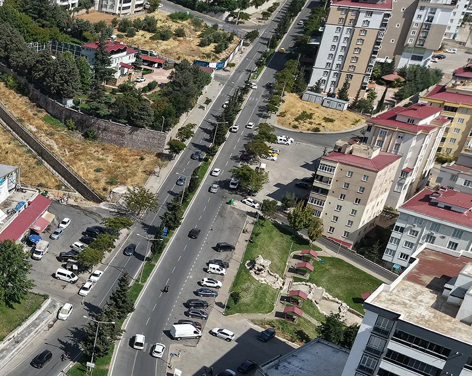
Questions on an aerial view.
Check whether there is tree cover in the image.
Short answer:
Yes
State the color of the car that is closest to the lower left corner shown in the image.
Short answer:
black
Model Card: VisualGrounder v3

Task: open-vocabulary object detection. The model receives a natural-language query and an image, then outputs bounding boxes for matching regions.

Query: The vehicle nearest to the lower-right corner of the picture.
[256,325,278,344]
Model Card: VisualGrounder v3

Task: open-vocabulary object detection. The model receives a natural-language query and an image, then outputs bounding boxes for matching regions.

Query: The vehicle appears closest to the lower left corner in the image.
[30,348,54,370]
